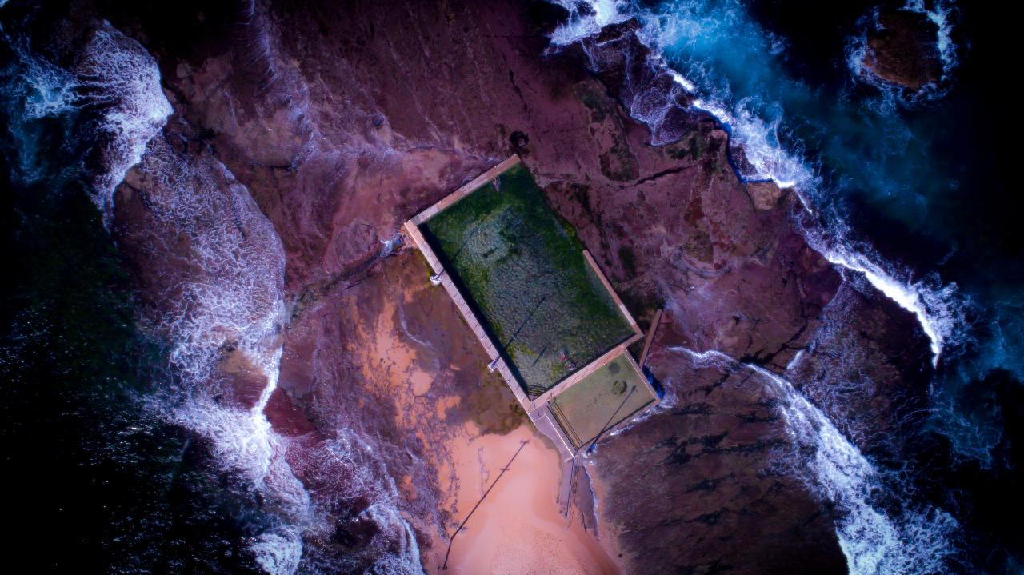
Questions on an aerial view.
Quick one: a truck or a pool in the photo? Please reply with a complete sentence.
The one in the frame is a pool.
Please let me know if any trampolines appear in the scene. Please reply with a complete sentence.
No, the scene contains no trampoline.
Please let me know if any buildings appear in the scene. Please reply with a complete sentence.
No, no building is visible in the scene.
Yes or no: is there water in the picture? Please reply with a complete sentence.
Yes, some water is visible.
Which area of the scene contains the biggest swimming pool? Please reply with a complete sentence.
The biggest swimming pool sits in the center section of the image.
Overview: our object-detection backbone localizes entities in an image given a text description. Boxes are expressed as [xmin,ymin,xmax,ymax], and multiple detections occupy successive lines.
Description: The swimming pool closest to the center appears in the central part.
[404,156,644,414]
